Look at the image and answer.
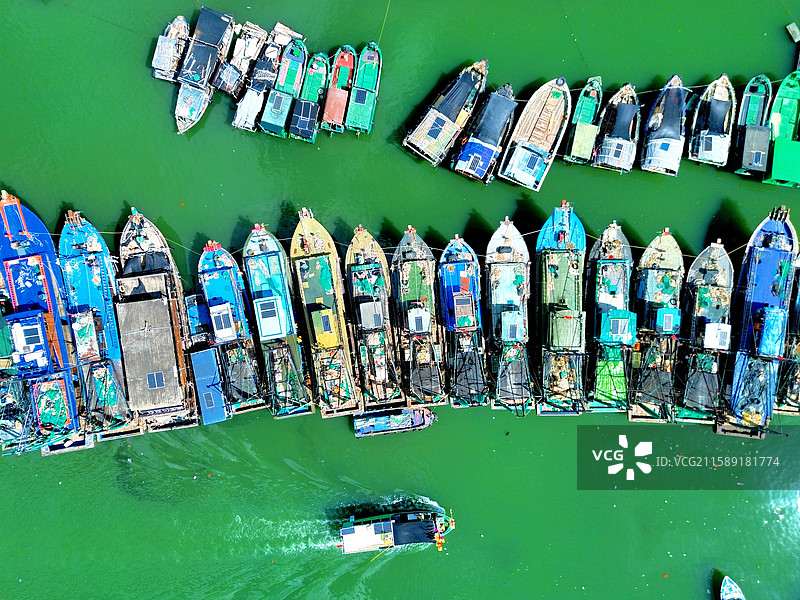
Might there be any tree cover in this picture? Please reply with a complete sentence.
No, there is no tree cover in the image.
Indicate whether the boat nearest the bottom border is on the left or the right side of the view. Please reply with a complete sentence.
You can find the boat nearest the bottom border on the right side of the picture.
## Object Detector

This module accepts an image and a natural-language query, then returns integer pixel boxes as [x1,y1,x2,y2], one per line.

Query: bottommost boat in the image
[716,573,748,600]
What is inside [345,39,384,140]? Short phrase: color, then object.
green boat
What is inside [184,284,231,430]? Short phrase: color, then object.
blue boat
